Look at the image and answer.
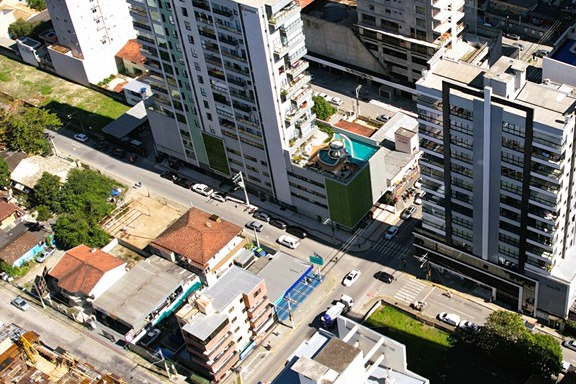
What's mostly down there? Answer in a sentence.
The largest share of the image is taken up by buildings.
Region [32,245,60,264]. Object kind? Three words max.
vehicle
